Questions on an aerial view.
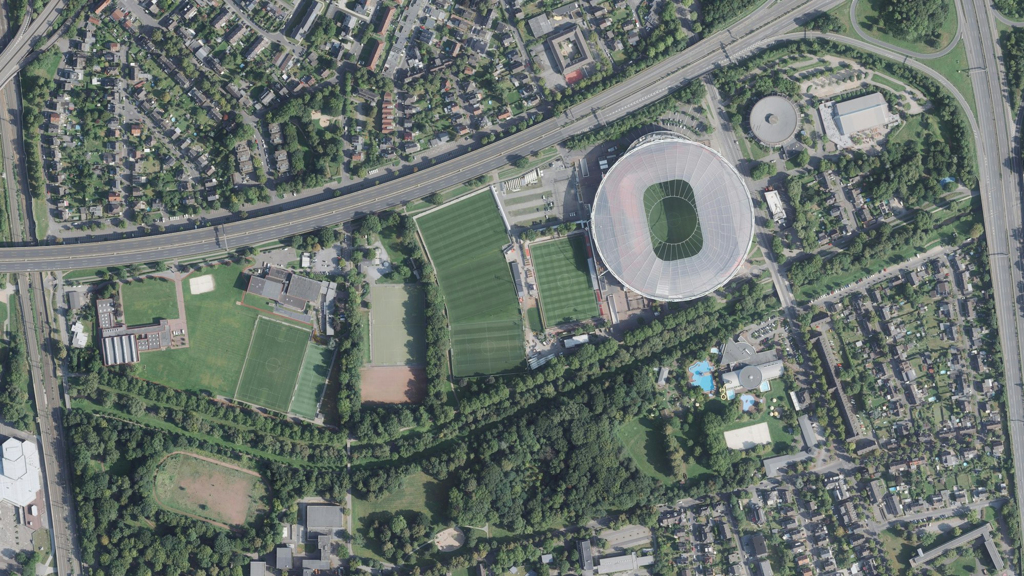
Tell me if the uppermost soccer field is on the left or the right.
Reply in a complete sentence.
You can find the uppermost soccer field on the right side of the picture.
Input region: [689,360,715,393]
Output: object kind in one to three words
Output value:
swimming pool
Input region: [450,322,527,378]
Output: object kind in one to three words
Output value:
soccer field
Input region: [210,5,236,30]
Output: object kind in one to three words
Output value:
house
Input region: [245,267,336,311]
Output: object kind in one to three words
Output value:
building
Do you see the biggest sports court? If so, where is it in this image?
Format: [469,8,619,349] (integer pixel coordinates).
[724,422,772,450]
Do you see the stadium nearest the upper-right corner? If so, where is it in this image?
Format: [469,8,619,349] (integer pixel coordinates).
[592,138,756,302]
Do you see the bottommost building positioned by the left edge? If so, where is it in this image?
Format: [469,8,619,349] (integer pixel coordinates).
[32,528,51,564]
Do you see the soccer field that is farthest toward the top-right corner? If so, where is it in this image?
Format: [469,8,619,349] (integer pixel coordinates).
[645,179,705,261]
